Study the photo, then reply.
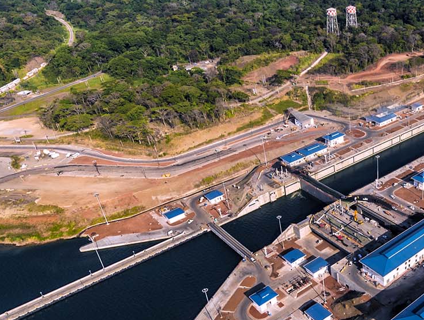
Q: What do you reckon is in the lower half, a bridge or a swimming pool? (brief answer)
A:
bridge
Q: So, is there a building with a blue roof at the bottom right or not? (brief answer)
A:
Yes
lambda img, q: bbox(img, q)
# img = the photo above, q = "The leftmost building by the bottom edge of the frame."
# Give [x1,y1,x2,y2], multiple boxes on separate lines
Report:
[249,285,279,312]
